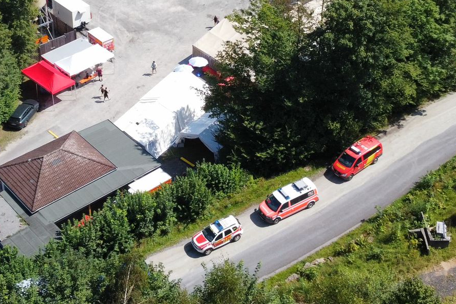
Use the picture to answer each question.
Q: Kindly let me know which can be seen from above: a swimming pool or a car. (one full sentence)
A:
Looking from above, you can make out a car.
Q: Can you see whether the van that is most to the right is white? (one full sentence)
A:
No, the color of the van that is most to the right is red.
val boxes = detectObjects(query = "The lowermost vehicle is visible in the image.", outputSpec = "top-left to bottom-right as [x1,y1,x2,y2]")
[188,210,246,256]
